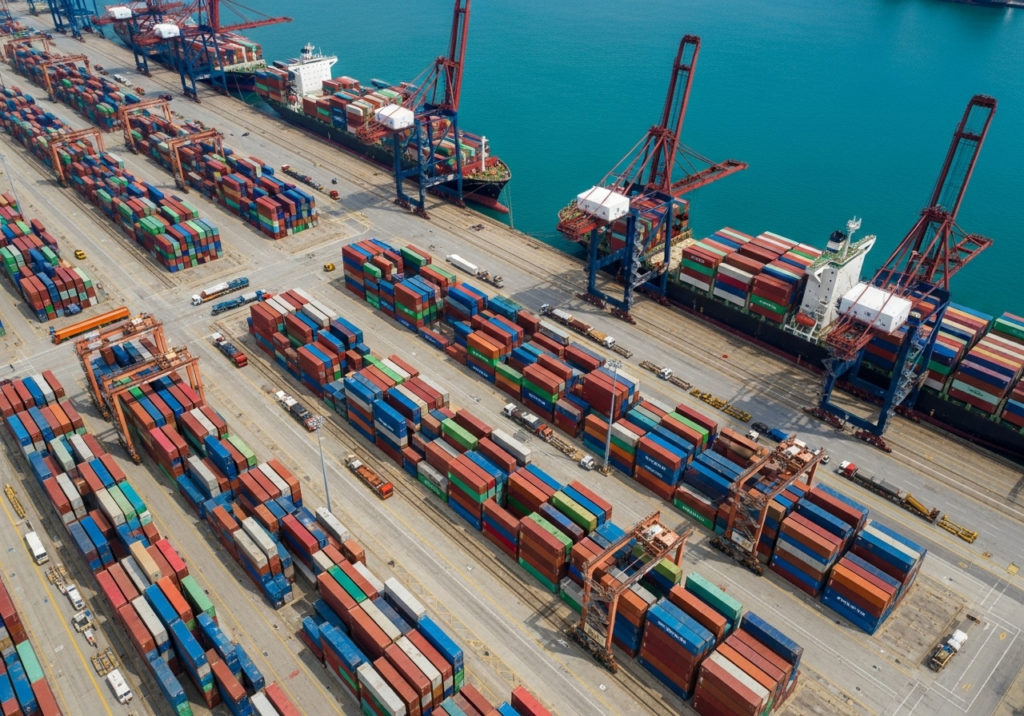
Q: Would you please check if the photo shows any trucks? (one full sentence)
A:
Yes, there is a truck in the image.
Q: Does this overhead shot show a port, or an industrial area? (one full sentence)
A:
What you see here is a port.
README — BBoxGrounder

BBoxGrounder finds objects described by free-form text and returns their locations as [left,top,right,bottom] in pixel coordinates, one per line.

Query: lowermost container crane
[559,503,700,670]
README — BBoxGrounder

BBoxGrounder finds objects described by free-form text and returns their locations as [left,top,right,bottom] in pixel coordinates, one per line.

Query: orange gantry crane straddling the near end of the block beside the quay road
[705,431,833,573]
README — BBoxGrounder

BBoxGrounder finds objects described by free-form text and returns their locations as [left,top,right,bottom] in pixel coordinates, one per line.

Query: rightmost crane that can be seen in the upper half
[795,82,1010,452]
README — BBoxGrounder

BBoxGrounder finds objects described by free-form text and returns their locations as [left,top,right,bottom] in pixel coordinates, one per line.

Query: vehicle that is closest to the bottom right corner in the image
[932,623,978,665]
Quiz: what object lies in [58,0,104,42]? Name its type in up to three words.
container crane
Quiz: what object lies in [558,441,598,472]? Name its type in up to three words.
truck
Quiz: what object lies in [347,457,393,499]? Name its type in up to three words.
truck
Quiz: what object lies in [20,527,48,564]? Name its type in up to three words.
bus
